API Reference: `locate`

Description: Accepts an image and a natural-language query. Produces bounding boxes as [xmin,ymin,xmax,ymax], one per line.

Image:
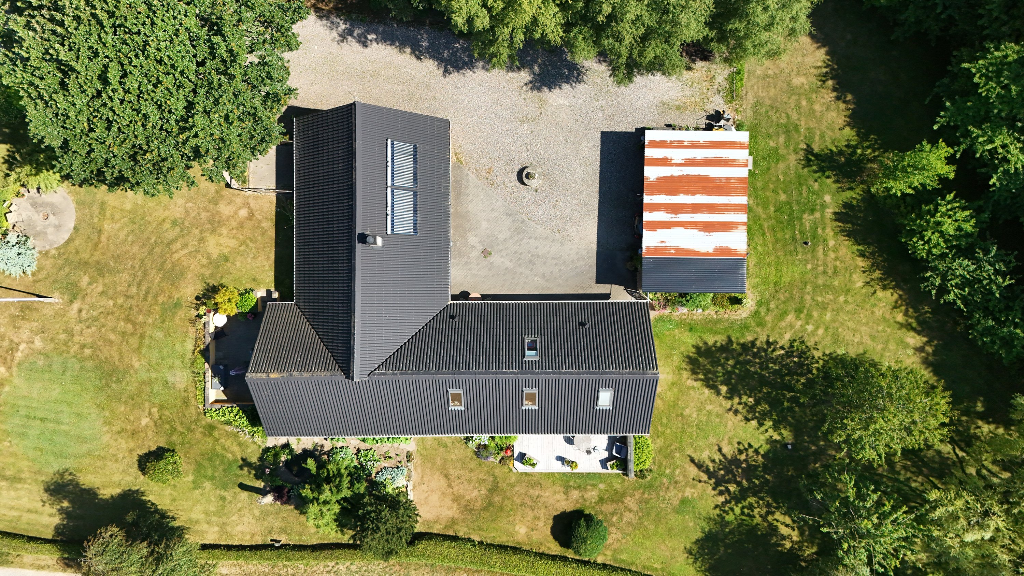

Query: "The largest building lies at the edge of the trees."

[245,88,660,436]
